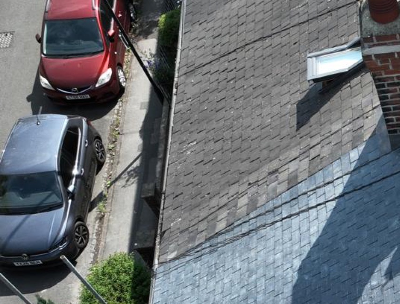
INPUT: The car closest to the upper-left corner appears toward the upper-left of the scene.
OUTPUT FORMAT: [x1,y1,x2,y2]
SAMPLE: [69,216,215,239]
[26,0,140,108]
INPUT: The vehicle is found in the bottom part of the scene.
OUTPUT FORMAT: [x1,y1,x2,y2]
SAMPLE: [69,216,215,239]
[0,112,107,275]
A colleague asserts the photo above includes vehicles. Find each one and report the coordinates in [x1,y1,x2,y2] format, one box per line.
[26,0,140,108]
[0,112,107,275]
